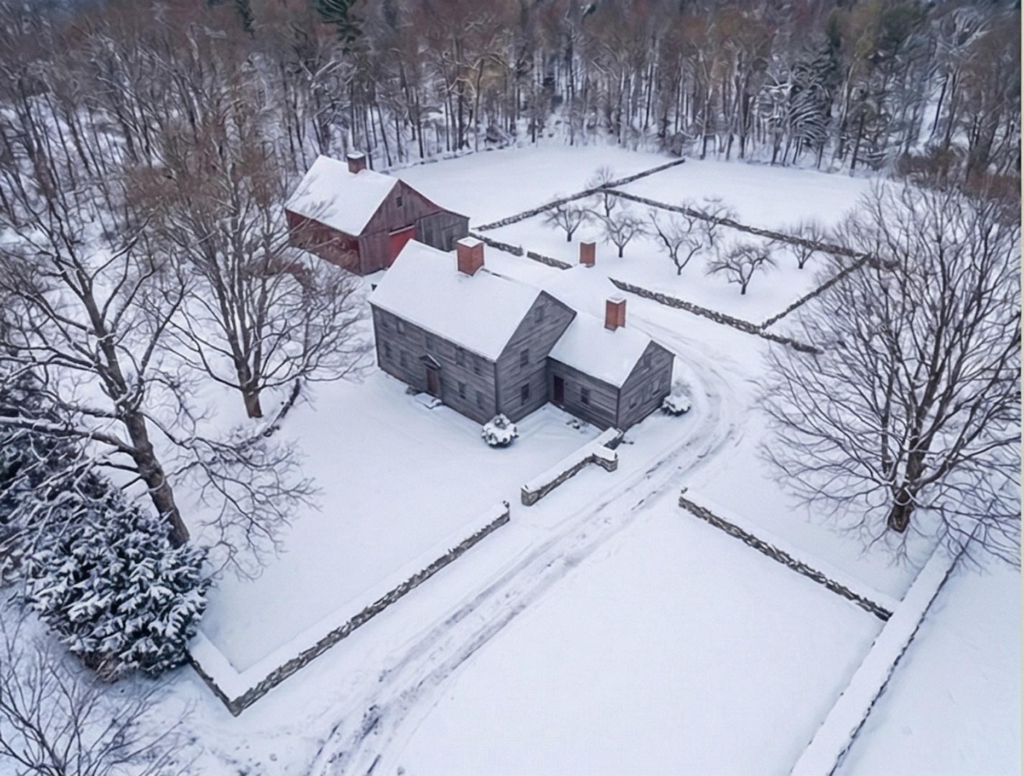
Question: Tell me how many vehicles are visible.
none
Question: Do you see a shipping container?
No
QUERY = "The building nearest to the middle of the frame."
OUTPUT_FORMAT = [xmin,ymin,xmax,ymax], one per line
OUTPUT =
[369,237,677,427]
